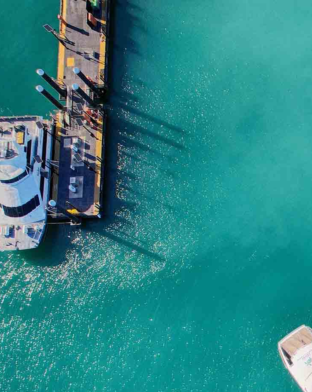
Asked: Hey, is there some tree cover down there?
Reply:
No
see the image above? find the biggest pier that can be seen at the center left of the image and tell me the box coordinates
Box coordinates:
[49,110,108,218]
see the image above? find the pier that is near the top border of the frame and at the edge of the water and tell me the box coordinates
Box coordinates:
[57,0,113,91]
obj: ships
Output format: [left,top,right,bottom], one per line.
[278,326,312,392]
[0,116,54,252]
